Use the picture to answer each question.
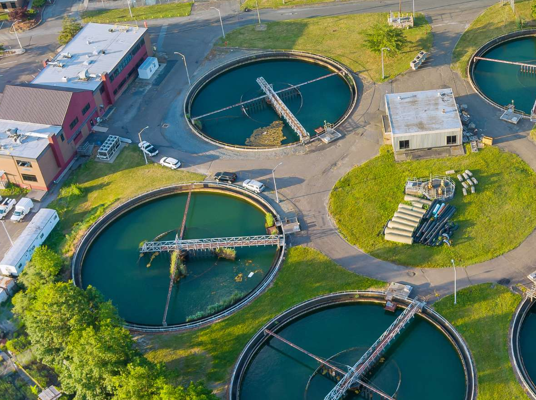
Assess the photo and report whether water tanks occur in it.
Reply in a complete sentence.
Yes, there's a water tank here.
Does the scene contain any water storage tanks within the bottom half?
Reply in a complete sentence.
Yes, within the bottom half there is a water storage tank.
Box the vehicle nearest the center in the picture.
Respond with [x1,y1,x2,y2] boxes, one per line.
[241,180,266,192]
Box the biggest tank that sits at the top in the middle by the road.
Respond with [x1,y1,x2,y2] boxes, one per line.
[183,49,358,152]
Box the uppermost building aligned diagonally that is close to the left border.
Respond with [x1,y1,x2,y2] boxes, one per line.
[0,21,155,193]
